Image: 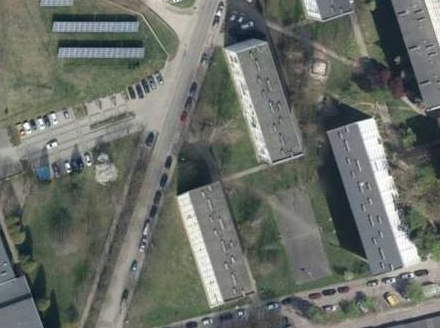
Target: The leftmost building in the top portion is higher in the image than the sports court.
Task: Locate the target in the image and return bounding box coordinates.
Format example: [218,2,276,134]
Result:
[224,42,303,163]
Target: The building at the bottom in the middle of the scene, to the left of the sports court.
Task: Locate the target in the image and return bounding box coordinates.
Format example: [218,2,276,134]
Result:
[178,182,255,302]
